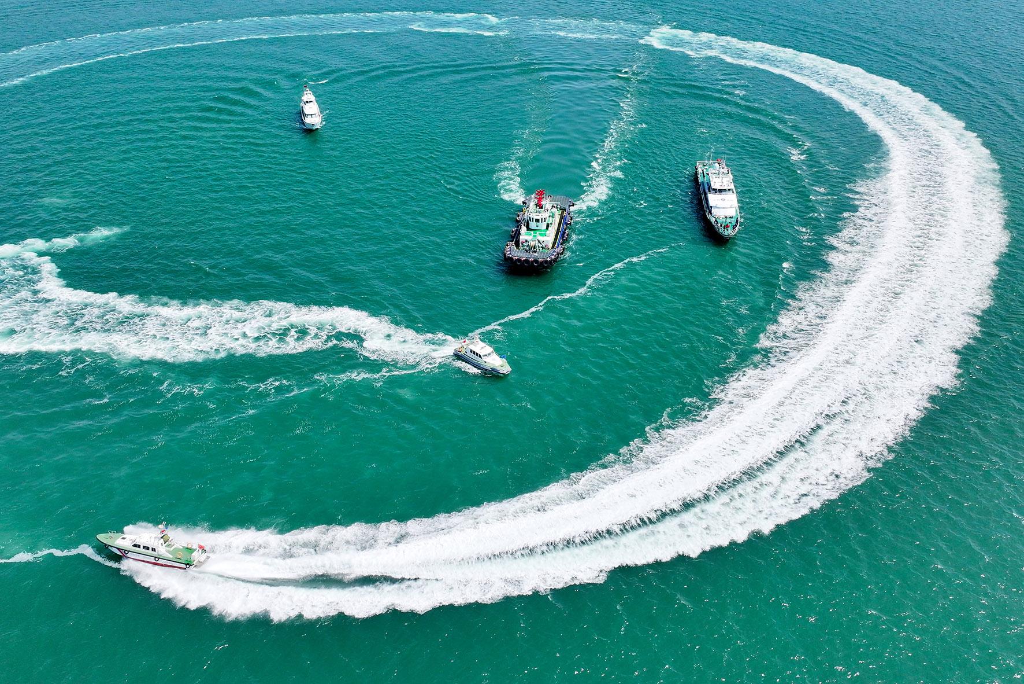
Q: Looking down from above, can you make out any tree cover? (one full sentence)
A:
No, there is no tree cover in the image.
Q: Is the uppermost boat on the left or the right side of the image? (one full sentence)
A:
You can find the uppermost boat on the left side of the picture.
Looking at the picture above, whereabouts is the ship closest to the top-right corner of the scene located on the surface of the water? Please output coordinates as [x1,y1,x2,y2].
[692,153,739,252]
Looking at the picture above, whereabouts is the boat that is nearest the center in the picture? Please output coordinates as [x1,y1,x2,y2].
[453,339,513,377]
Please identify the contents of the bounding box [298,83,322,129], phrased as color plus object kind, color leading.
white boat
